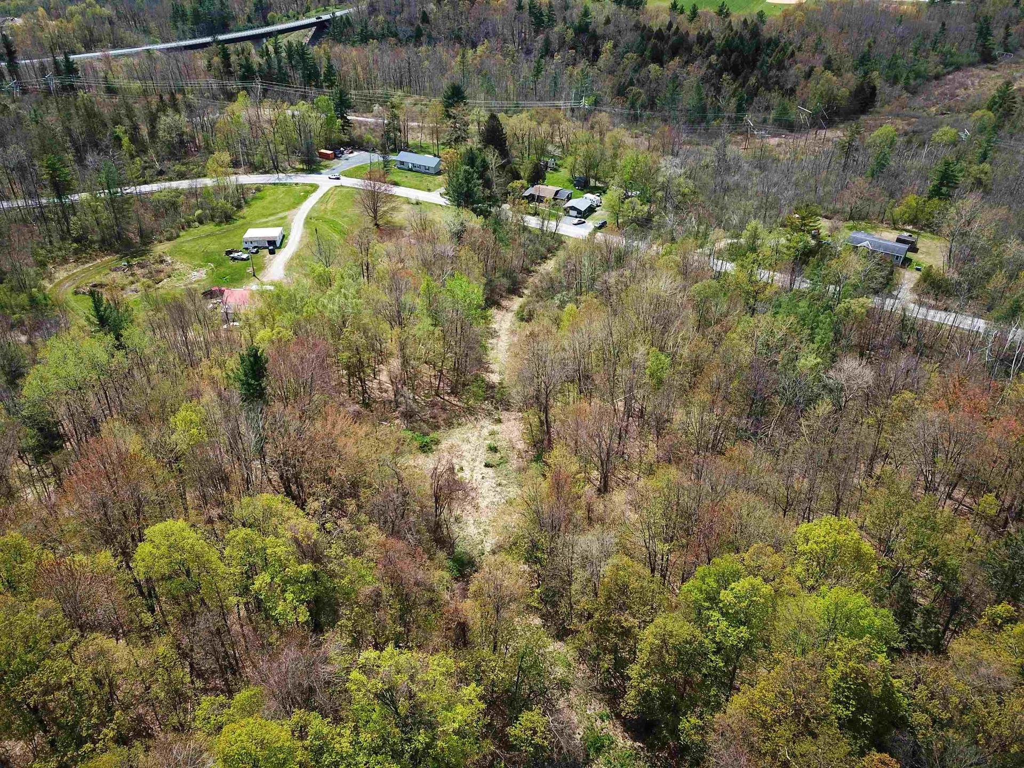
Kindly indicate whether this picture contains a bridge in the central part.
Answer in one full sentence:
No, no bridge appears in the central part.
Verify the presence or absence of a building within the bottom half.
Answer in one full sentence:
No, no building appears within the bottom half.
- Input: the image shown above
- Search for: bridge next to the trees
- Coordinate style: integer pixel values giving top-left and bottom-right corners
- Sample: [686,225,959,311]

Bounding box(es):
[214,17,324,48]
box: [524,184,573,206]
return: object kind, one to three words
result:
house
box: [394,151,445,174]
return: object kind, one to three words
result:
house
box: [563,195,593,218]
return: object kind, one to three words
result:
building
